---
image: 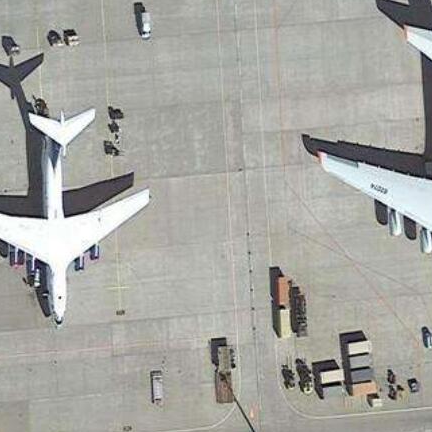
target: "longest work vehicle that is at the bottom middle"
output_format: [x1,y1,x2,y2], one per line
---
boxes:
[214,347,235,402]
